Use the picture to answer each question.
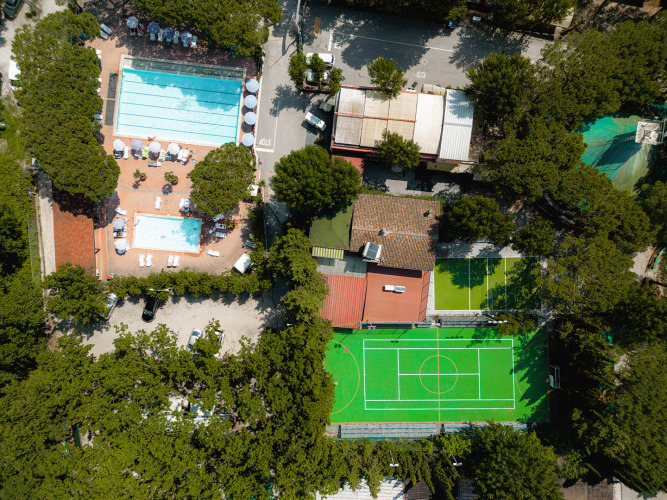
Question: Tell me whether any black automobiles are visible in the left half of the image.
Yes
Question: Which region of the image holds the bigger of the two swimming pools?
top left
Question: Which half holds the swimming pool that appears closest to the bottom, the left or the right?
left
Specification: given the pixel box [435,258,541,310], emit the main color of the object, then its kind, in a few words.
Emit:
green sports court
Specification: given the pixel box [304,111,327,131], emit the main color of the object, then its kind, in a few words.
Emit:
white vehicle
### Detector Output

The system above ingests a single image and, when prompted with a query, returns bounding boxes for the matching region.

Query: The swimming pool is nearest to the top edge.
[111,53,248,150]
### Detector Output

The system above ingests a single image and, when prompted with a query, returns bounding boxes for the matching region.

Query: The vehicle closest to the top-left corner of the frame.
[2,0,22,20]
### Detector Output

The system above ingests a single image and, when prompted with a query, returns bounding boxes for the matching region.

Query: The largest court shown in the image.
[321,327,550,423]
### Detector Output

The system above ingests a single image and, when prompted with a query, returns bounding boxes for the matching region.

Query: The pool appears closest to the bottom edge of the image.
[129,210,205,256]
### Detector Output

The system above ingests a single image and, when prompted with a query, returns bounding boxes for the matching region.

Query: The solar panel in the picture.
[362,241,384,262]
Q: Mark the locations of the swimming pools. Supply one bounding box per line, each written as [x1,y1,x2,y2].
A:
[111,53,248,150]
[129,210,205,256]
